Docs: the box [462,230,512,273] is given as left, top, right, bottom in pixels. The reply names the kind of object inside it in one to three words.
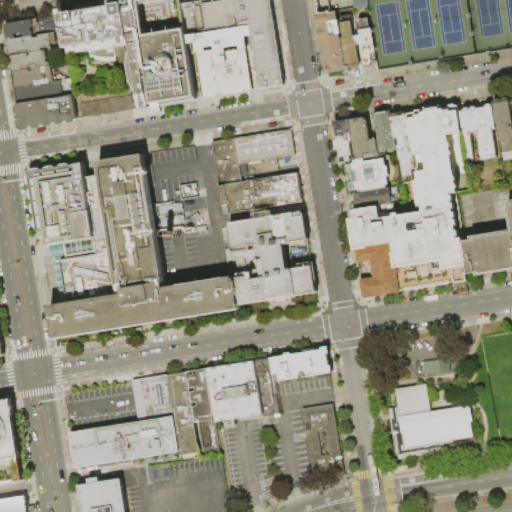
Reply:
building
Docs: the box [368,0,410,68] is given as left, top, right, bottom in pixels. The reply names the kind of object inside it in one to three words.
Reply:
tennis court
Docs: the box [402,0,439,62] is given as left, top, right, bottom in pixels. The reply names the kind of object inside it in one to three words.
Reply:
tennis court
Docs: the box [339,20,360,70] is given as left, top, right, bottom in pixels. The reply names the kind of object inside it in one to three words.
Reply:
house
